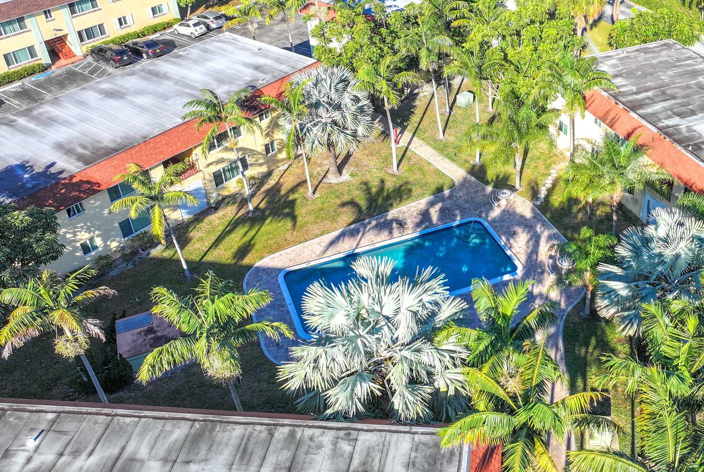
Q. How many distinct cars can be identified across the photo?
4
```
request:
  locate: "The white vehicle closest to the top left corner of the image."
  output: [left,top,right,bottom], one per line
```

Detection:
[173,19,208,40]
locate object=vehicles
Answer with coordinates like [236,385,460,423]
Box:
[92,45,138,72]
[195,11,234,33]
[173,19,208,40]
[121,39,165,62]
